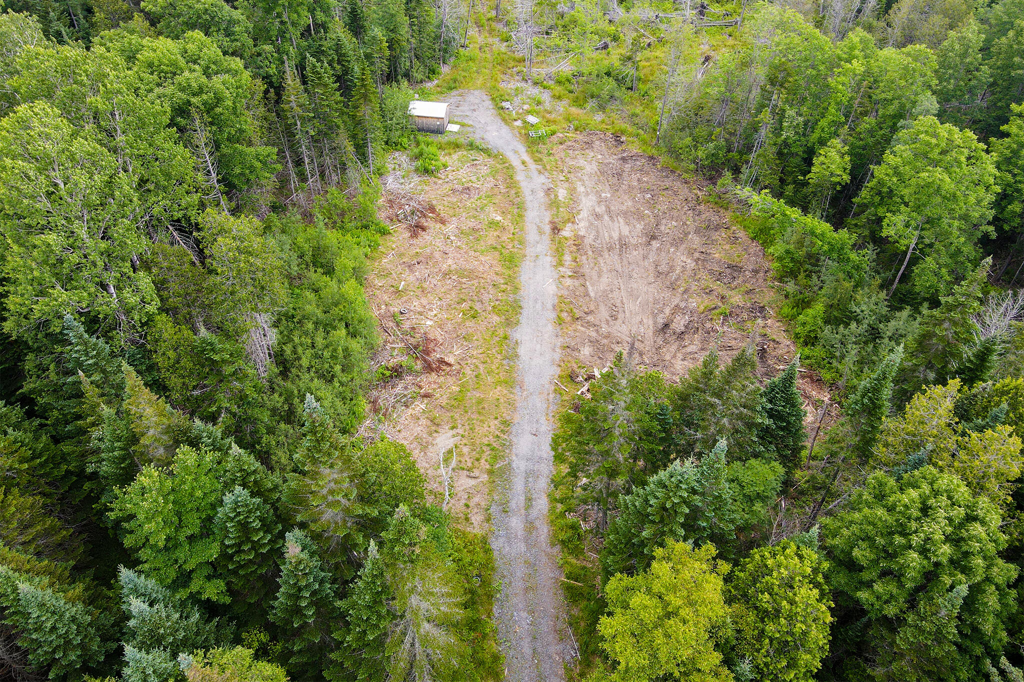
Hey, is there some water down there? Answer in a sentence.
No, the picture contains no water.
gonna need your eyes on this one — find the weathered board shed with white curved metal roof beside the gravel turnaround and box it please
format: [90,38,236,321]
[408,104,453,134]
